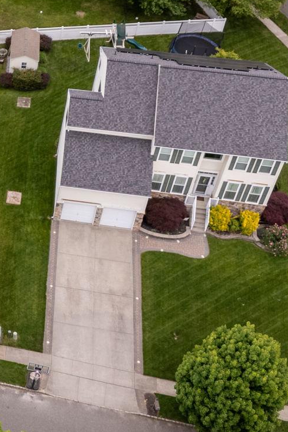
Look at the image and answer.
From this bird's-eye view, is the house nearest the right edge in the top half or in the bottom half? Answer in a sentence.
The house nearest the right edge is in the top half of the image.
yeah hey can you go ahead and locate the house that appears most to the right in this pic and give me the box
[54,49,288,231]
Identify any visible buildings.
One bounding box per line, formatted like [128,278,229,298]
[9,26,43,73]
[54,49,288,231]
